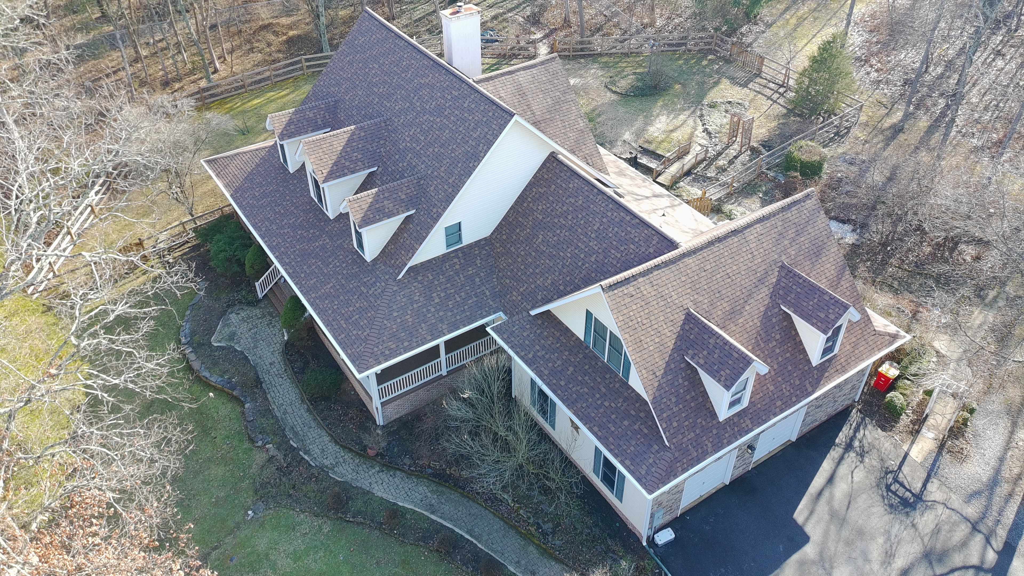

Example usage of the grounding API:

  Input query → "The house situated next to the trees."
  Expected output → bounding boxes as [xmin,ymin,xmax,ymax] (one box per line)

[197,0,917,548]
